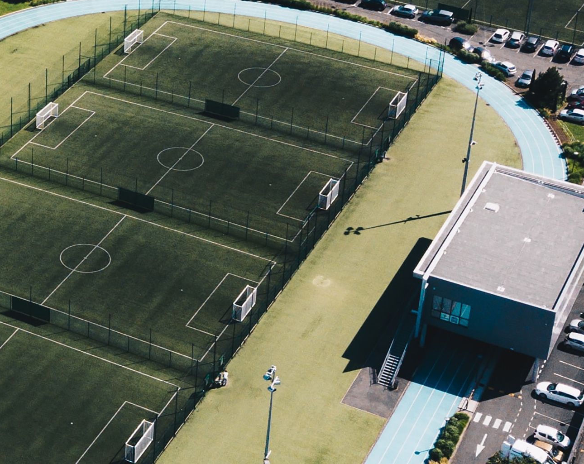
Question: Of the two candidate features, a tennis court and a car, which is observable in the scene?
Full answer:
Visible in the photo is a car.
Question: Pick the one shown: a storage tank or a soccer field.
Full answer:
The one in the frame is a soccer field.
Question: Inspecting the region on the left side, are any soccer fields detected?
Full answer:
Yes, a soccer field is visible on the left side.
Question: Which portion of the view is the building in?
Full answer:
Look in the right portion of the view to spot the building.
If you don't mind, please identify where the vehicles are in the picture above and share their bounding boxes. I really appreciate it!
[555,45,575,62]
[573,51,584,66]
[558,109,584,126]
[526,418,575,452]
[216,372,229,388]
[570,88,584,100]
[534,384,584,411]
[506,32,526,49]
[447,37,476,53]
[540,42,558,57]
[562,332,584,350]
[568,100,584,111]
[535,432,567,463]
[495,428,559,464]
[360,0,388,12]
[491,29,509,44]
[523,37,542,53]
[516,68,538,87]
[422,10,454,26]
[392,5,420,19]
